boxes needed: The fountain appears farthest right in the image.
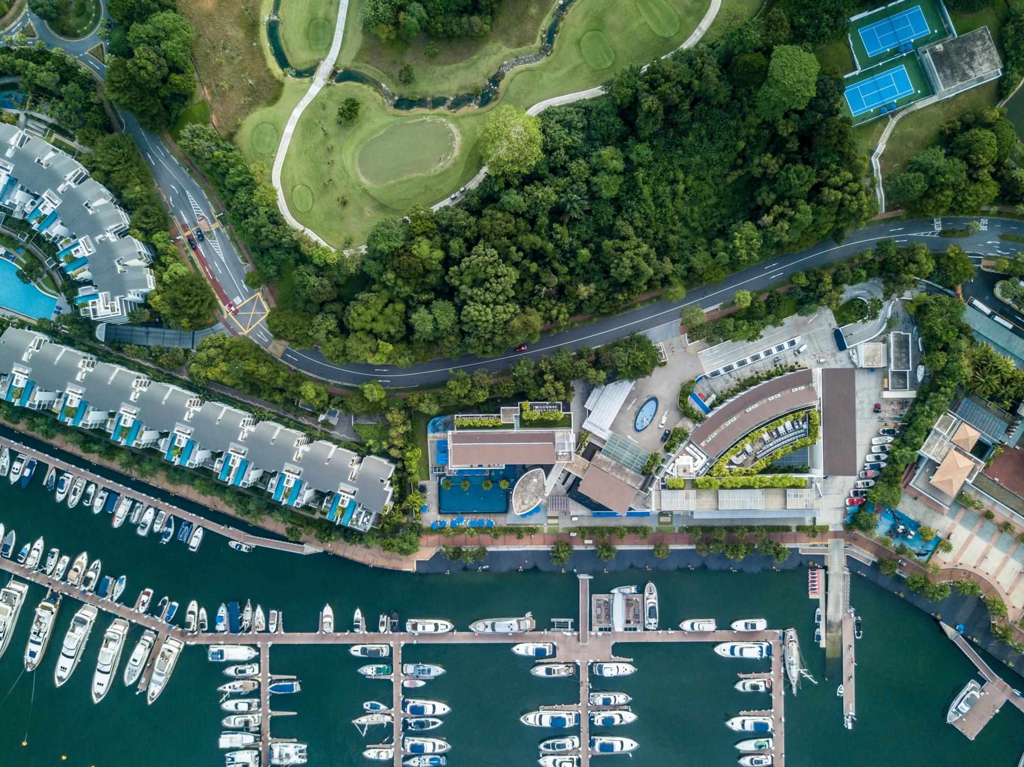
[634,397,658,432]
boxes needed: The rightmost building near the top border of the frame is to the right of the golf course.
[915,26,1002,101]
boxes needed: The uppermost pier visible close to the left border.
[0,437,255,547]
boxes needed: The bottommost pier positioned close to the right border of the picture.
[952,670,1024,740]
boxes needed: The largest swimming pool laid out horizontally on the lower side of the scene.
[438,465,543,514]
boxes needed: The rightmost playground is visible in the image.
[866,502,941,563]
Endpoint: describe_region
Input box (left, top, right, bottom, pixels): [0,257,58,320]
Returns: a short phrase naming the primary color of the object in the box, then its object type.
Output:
blue swimming pool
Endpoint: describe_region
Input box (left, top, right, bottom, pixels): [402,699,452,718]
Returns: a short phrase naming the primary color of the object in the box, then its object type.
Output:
white boat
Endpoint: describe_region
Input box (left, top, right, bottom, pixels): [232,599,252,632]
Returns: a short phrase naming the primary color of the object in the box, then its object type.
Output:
white boat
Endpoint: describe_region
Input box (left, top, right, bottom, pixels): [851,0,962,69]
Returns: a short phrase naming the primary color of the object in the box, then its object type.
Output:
blue tennis court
